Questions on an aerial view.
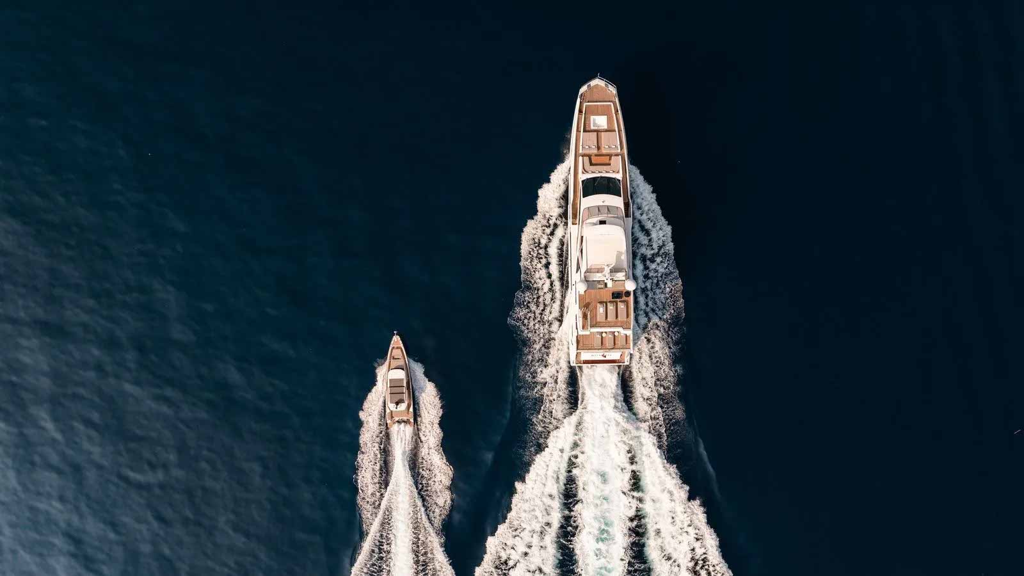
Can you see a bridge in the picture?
No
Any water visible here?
Yes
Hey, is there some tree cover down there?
No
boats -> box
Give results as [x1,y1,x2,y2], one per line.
[385,332,414,428]
[569,68,636,366]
